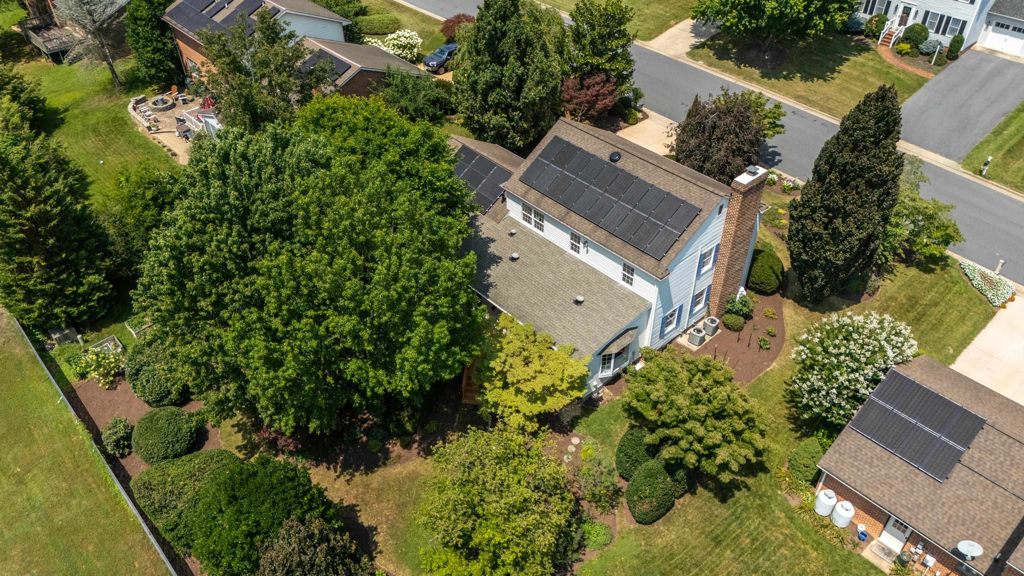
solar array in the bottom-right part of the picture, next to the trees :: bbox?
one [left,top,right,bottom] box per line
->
[851,371,987,480]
